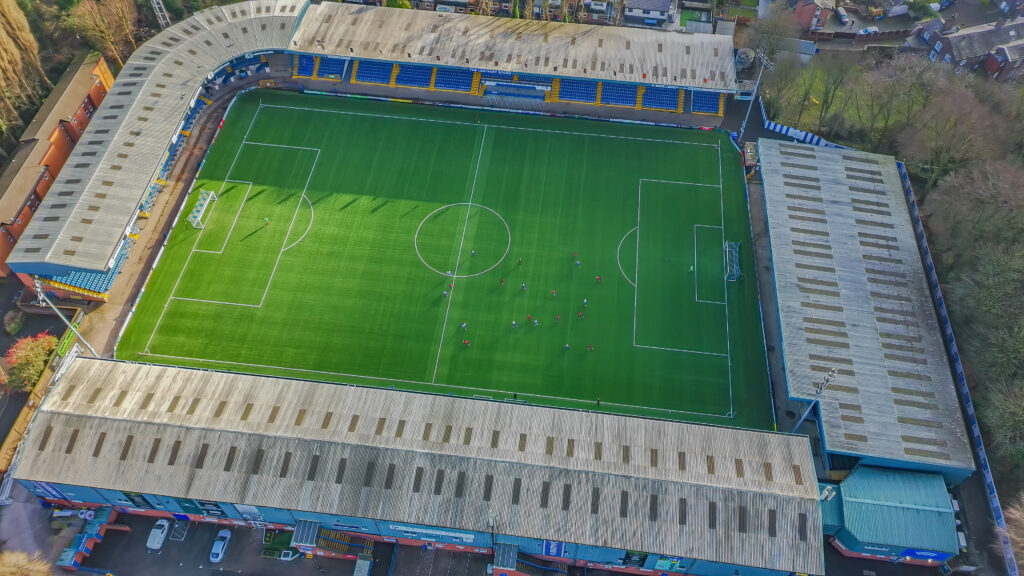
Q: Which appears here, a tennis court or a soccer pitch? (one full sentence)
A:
The image shows a soccer pitch.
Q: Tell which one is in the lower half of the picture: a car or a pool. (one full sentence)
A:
The one visible in the lower half of the picture is a car.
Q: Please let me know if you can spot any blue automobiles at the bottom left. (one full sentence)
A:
Yes, looking at the bottom left, one can make out a blue automobile.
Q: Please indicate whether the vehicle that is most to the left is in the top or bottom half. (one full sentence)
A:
It is in the bottom half that the vehicle that is most to the left appears.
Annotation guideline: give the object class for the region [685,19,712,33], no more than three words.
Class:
shed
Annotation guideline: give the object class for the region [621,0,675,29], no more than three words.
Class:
house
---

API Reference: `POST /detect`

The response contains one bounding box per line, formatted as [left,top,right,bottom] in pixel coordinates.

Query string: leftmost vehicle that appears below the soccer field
[146,518,172,550]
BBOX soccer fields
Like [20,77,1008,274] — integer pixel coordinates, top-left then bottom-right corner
[116,89,775,430]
